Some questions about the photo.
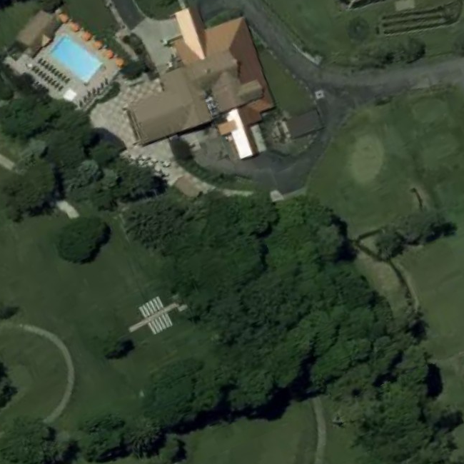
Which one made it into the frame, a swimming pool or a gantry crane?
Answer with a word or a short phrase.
swimming pool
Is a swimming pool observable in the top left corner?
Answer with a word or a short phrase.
Yes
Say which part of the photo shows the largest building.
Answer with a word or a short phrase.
top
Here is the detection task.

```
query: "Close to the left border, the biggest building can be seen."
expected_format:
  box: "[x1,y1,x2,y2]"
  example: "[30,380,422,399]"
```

[14,10,58,55]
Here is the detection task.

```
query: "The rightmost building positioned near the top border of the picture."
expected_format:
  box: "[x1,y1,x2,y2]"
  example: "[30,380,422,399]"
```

[128,9,274,162]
